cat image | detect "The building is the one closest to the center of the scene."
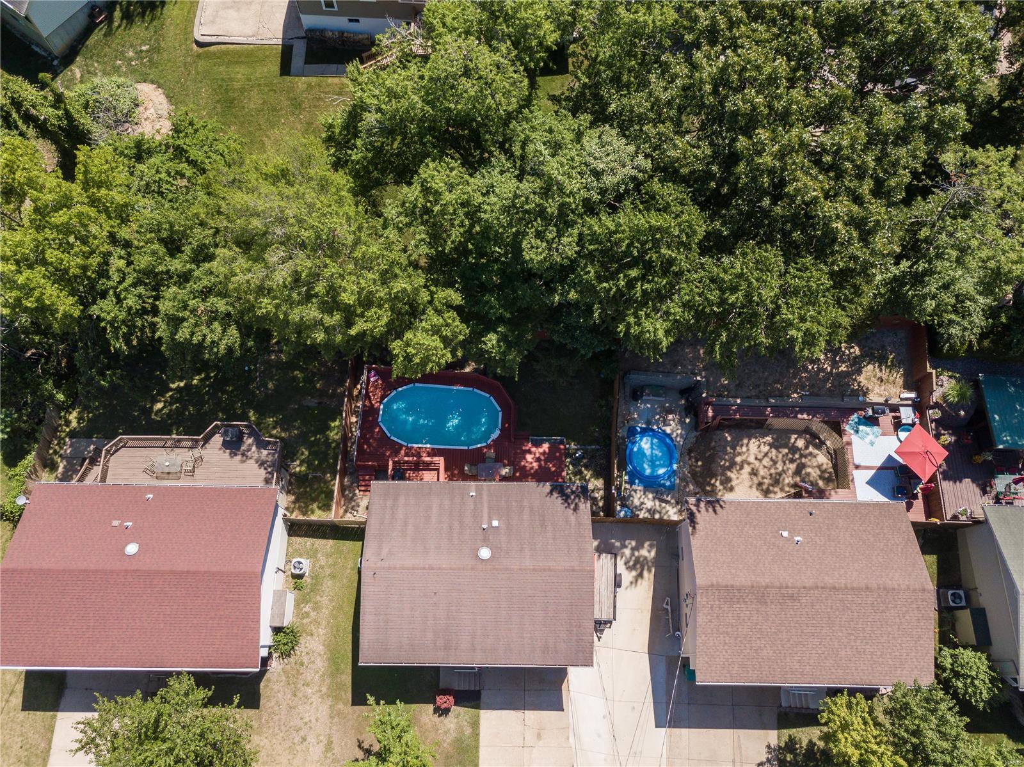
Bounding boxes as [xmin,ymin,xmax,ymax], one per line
[358,481,595,669]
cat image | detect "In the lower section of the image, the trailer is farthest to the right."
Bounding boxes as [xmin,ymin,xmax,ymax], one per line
[592,553,621,646]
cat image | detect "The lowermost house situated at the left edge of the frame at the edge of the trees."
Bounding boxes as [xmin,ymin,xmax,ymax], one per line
[0,483,297,673]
